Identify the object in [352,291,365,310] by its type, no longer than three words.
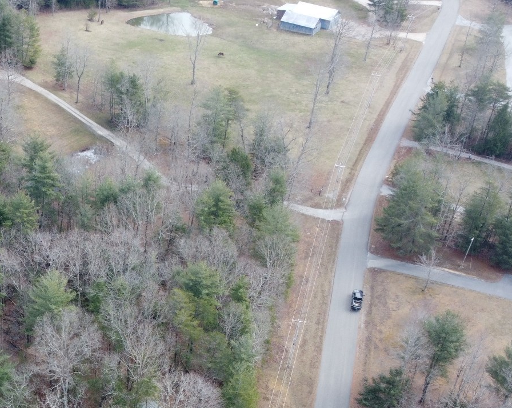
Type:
vehicle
